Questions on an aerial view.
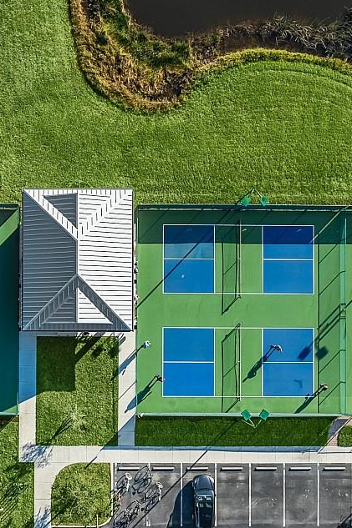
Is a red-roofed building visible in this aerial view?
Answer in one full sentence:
No, there is no red-roofed building in the image.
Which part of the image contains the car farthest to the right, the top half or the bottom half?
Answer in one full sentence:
The car farthest to the right sits in the bottom half of the picture.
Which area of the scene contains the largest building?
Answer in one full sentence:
The largest building sits in the left section of the image.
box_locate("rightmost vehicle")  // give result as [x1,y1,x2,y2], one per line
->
[191,475,217,528]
